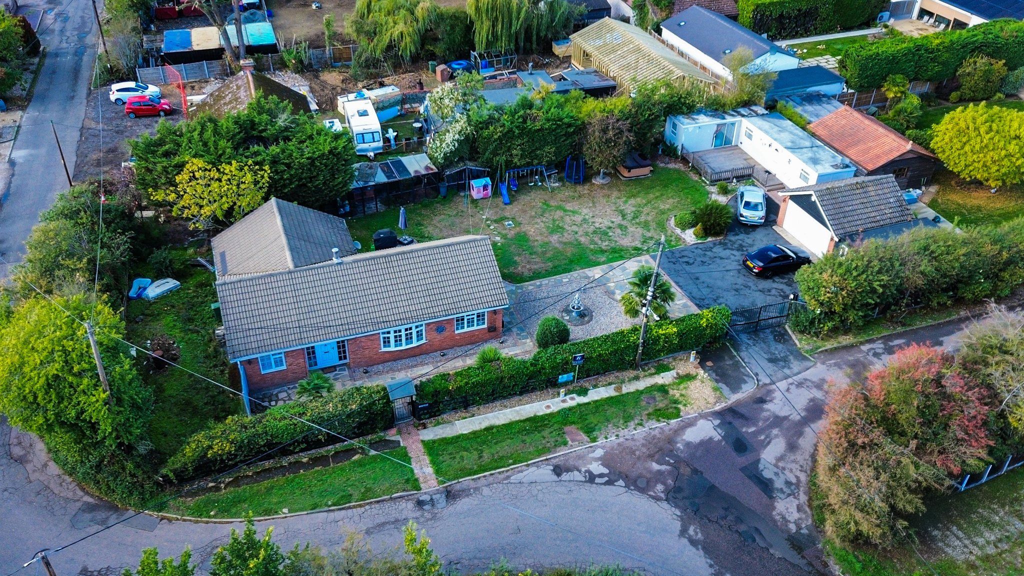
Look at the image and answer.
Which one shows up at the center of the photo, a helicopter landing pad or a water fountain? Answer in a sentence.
What appears at the center of the photo is a water fountain.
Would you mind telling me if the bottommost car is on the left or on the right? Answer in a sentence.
The bottommost car appears in the right half of the scene.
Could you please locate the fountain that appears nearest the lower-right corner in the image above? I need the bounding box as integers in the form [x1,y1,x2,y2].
[562,286,596,325]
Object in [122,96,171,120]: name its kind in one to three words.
car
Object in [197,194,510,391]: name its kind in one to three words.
house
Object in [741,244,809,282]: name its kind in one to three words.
car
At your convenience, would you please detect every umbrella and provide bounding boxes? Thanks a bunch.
[398,205,412,245]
